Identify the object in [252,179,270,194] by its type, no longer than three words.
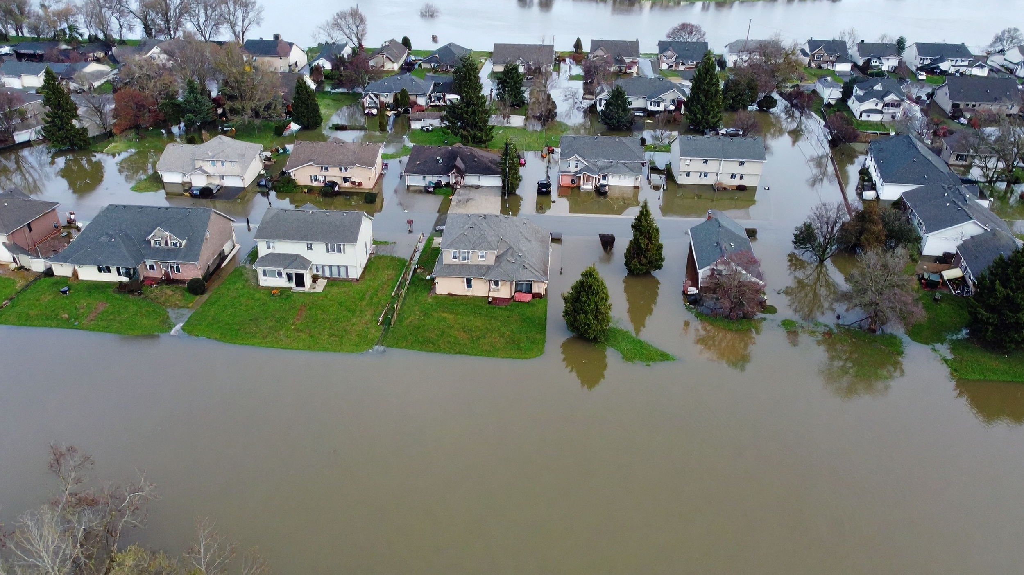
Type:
car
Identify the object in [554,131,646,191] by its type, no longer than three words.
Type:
house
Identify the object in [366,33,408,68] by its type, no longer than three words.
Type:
house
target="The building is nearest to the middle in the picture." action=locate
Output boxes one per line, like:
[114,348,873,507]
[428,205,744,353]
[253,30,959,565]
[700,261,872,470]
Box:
[429,217,552,308]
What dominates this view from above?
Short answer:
water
